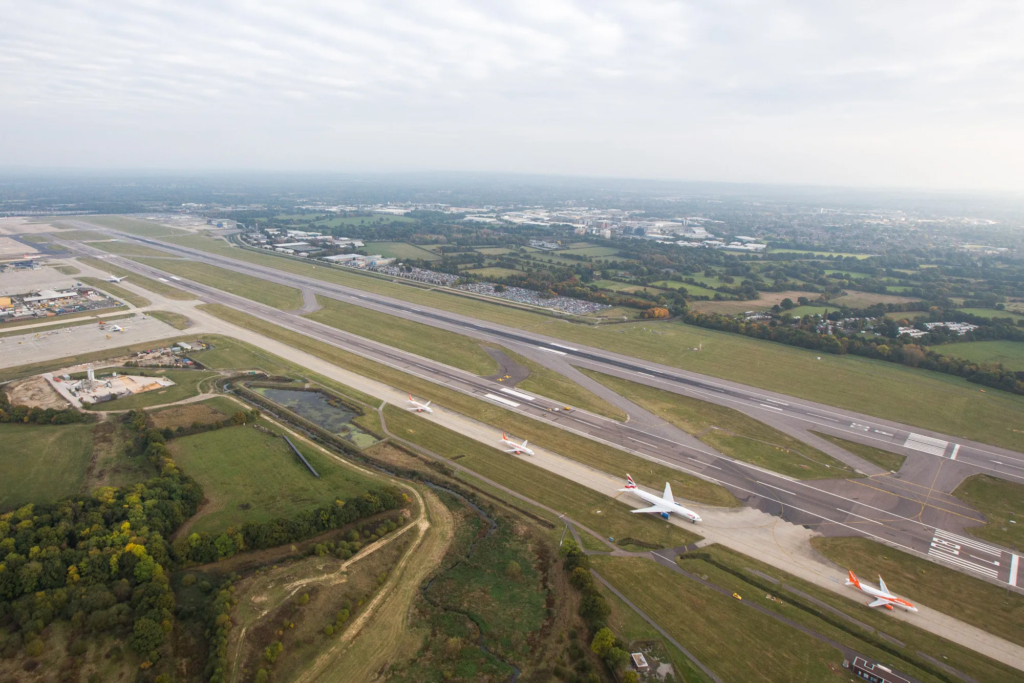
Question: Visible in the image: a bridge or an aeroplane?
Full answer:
The image shows an aeroplane.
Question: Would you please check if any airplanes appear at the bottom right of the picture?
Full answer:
Yes, looking at the bottom right of the picture, one can make out an airplane.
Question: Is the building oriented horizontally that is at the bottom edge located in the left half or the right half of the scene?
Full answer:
The building oriented horizontally that is at the bottom edge appears in the right half of the scene.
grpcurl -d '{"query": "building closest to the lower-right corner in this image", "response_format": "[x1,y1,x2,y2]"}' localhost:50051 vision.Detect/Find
[845,651,918,683]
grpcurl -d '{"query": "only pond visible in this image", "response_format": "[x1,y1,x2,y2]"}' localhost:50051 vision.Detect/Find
[251,387,377,447]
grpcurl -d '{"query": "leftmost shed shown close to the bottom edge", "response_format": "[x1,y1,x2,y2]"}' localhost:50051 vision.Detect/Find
[626,648,649,671]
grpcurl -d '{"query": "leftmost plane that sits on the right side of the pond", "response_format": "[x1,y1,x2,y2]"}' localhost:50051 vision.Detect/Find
[402,391,431,409]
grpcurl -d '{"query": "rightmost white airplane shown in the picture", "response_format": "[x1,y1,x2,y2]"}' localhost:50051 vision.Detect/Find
[844,569,918,611]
